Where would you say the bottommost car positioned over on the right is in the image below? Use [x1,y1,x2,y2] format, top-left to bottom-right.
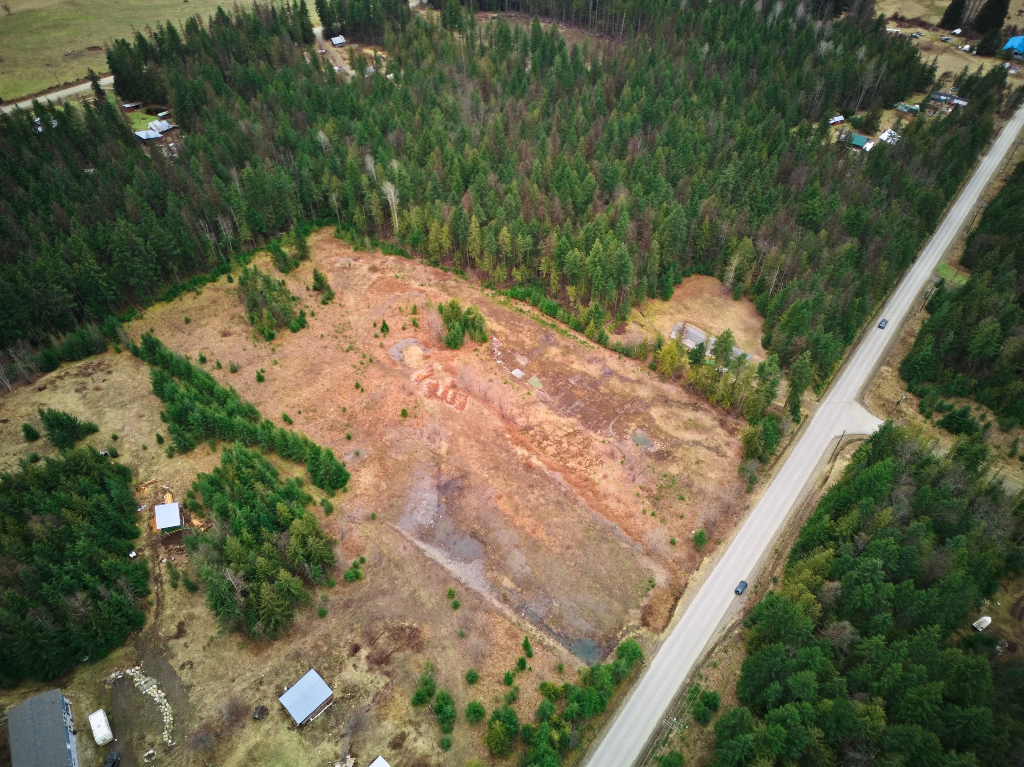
[733,578,750,598]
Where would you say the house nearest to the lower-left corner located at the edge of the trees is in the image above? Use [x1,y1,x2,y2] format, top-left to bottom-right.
[7,689,84,767]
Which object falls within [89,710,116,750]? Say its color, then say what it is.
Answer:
white trailer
